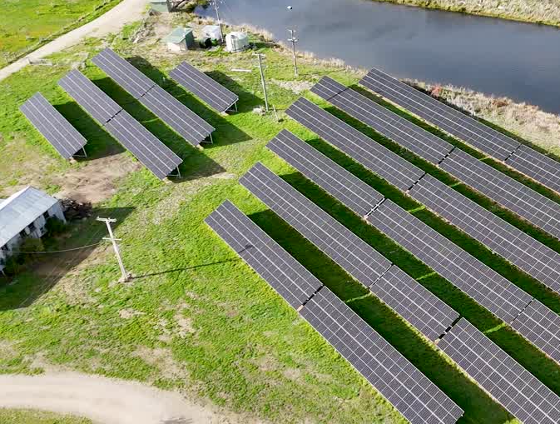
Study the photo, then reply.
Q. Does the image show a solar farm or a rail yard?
solar farm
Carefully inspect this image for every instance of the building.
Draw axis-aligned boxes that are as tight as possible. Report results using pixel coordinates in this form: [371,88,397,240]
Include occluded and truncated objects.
[148,0,175,11]
[0,188,63,270]
[163,26,200,51]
